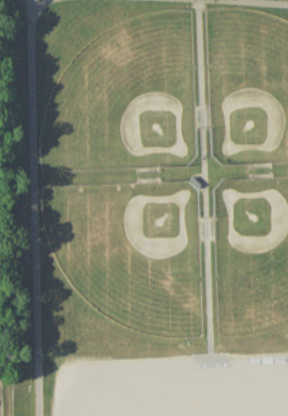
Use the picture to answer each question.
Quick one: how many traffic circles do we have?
0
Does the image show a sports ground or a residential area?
sports ground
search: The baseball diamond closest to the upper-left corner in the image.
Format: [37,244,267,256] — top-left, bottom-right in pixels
[40,8,196,171]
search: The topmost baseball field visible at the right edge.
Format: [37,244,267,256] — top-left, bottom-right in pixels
[206,6,288,164]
